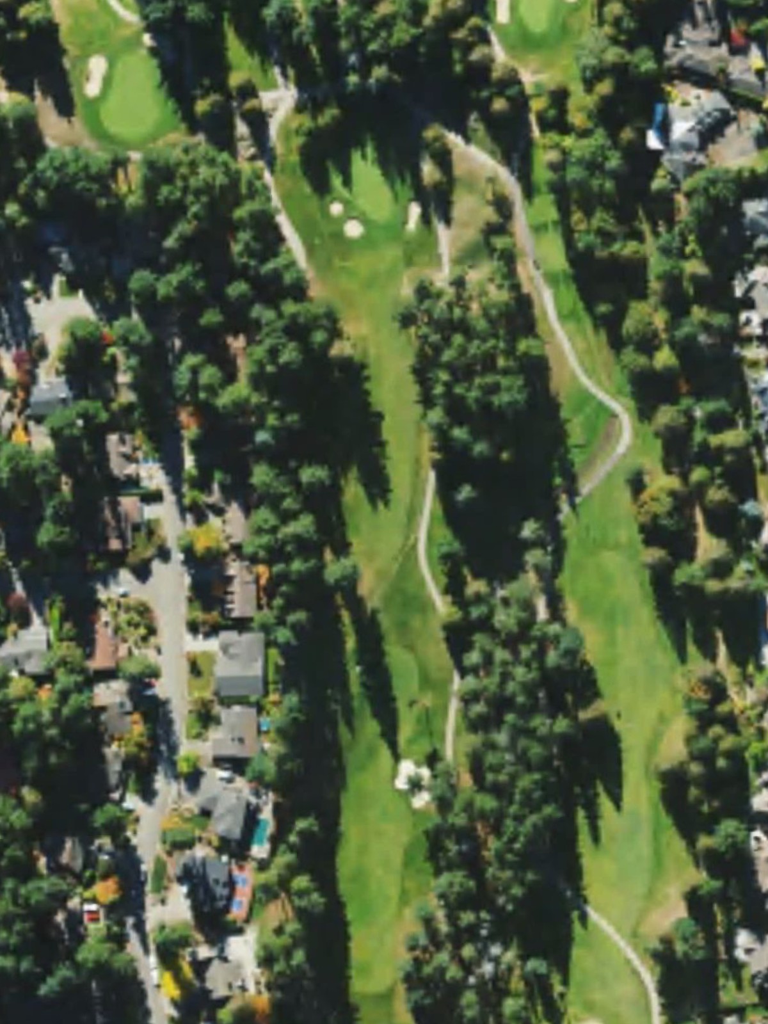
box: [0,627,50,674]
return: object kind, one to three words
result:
house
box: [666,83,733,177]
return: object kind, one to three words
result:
house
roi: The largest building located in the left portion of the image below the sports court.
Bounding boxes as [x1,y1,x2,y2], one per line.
[203,959,242,999]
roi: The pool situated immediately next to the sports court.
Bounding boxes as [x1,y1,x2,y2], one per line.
[251,790,275,859]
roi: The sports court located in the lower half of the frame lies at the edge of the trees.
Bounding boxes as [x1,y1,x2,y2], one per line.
[231,860,254,922]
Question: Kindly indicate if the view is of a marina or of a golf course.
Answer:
golf course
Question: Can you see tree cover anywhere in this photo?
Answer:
Yes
